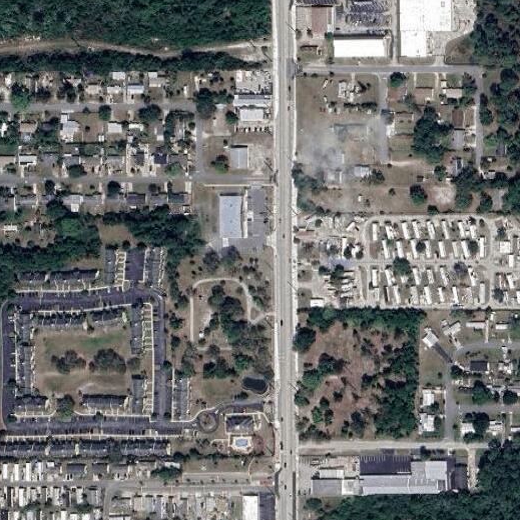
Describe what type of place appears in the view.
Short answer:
residential area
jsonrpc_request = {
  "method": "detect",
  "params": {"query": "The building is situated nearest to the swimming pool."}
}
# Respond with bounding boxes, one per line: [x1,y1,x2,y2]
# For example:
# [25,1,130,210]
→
[228,414,254,433]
